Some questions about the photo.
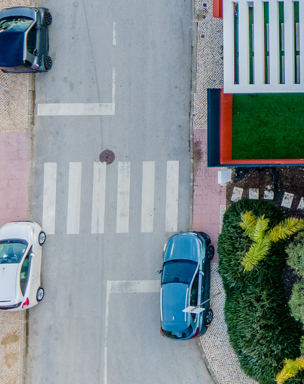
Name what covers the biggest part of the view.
paved ground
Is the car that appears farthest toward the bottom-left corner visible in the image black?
No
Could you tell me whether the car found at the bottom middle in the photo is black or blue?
blue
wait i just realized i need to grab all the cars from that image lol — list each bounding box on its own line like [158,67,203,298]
[0,4,61,74]
[146,228,211,341]
[0,217,50,313]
